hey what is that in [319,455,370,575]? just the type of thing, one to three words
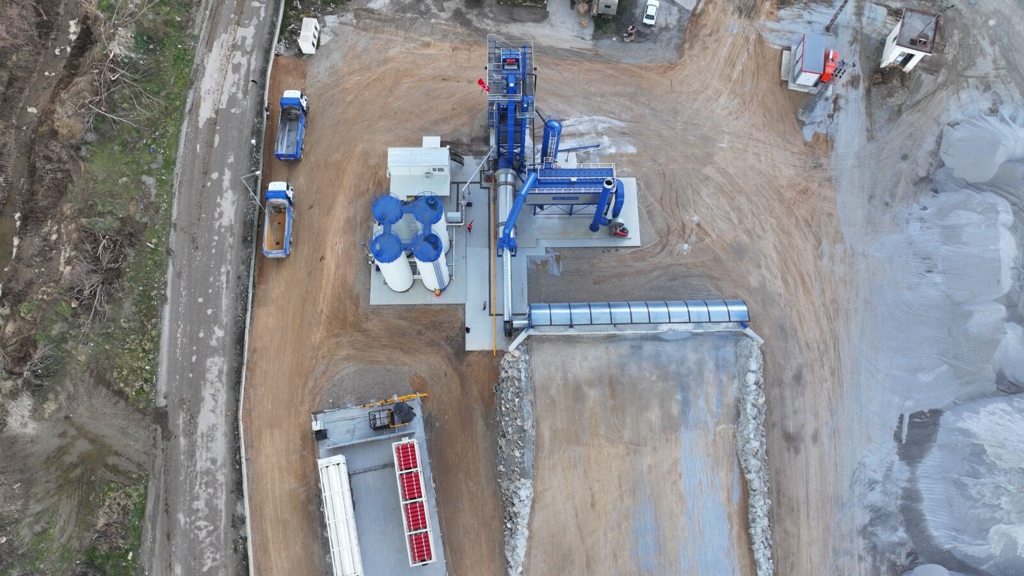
trailer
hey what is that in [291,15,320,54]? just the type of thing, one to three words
building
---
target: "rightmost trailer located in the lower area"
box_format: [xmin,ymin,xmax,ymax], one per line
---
[391,438,439,567]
